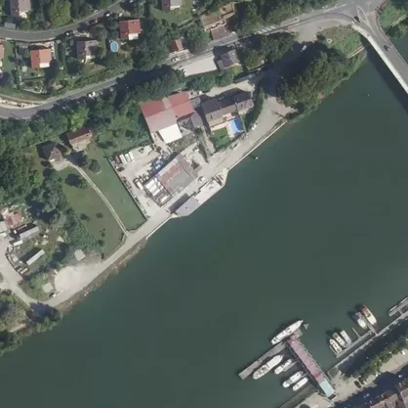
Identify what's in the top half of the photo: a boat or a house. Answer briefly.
house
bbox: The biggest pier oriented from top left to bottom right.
[284,337,335,395]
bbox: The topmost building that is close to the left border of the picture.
[7,0,30,17]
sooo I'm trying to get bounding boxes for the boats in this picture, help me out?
[356,314,368,329]
[251,355,284,380]
[292,378,307,391]
[270,320,304,344]
[362,306,377,324]
[334,334,346,347]
[330,339,340,353]
[274,360,292,374]
[282,372,303,387]
[342,331,353,344]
